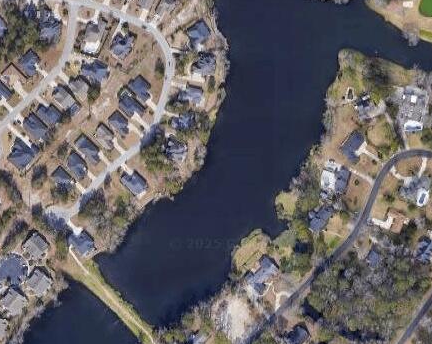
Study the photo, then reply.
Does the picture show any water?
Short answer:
Yes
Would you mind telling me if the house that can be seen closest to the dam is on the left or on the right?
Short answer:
left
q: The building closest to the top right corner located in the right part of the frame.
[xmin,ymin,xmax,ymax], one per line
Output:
[403,88,427,114]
